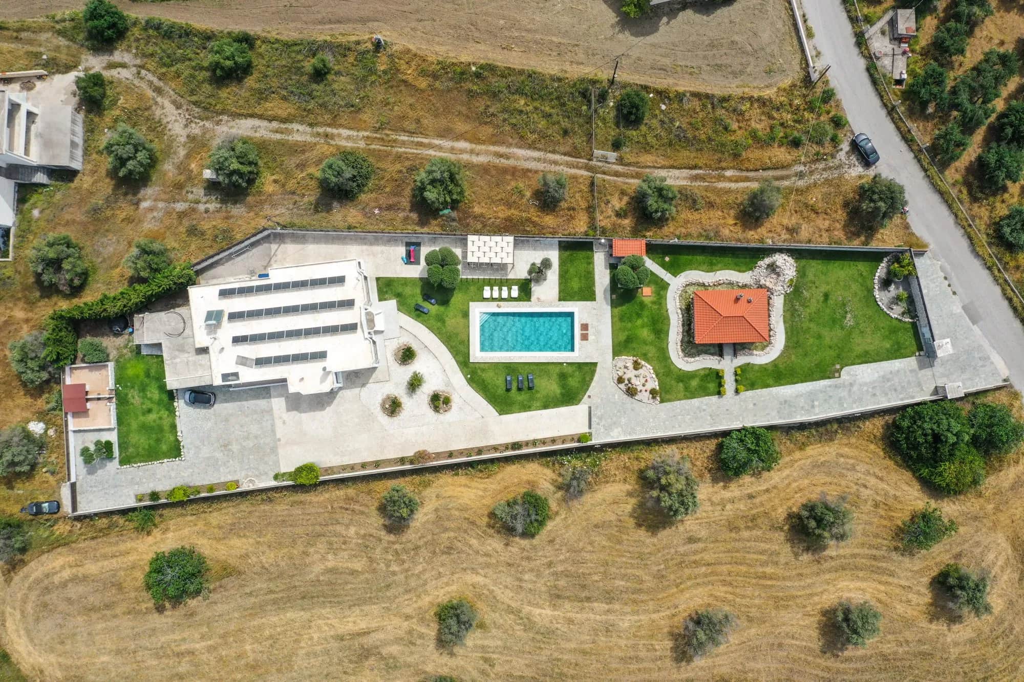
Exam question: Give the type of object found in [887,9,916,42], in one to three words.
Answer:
shed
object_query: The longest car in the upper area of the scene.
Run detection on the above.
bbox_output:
[852,132,880,165]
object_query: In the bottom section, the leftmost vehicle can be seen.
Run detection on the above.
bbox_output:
[27,500,62,515]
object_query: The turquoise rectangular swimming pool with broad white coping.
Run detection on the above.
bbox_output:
[476,308,579,357]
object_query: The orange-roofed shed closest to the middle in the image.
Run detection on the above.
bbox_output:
[611,239,647,257]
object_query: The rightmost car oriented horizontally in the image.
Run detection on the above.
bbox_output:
[184,390,217,406]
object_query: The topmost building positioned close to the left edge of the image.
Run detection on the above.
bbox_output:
[0,90,85,183]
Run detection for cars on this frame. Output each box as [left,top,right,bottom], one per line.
[27,500,62,515]
[852,132,880,165]
[184,390,217,406]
